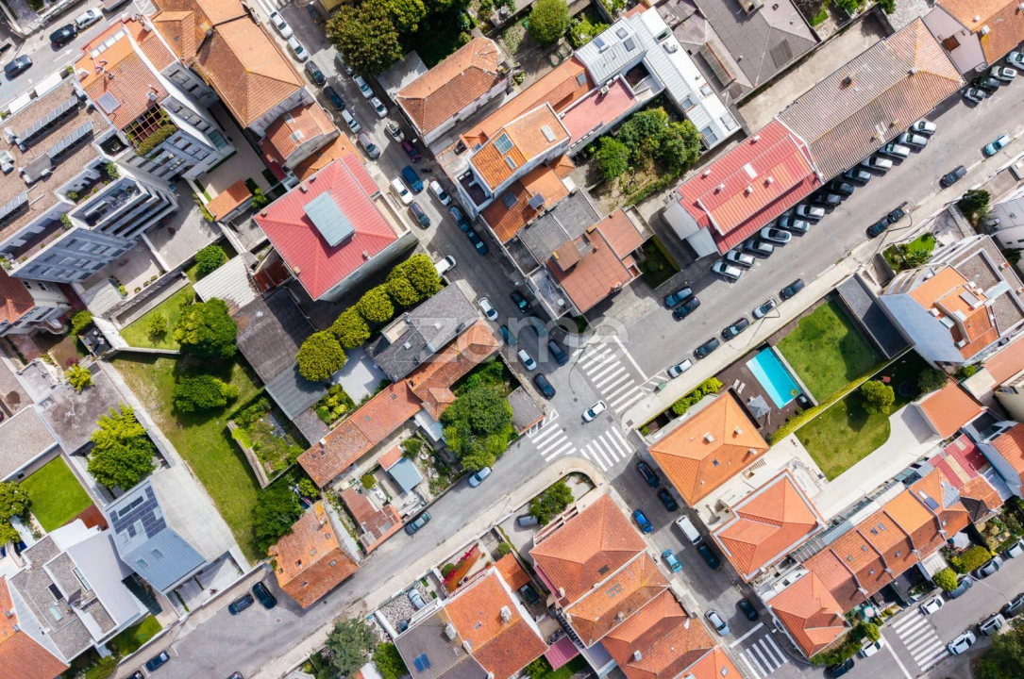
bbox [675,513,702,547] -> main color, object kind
white vehicle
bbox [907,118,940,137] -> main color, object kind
white car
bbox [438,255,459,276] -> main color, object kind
white vehicle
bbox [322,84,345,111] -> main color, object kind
black car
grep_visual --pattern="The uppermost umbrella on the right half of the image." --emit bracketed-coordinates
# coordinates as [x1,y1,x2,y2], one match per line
[746,395,768,417]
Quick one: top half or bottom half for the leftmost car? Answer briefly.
top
